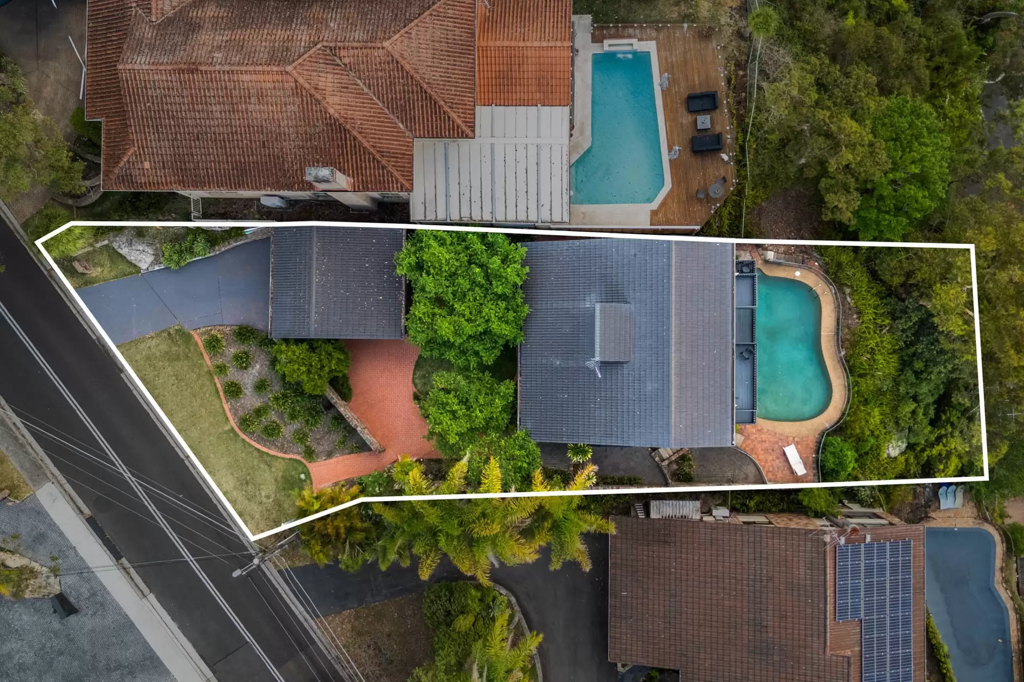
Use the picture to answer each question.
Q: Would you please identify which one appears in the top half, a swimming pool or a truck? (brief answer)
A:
swimming pool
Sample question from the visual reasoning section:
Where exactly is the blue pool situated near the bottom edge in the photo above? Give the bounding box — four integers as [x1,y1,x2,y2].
[920,521,1023,682]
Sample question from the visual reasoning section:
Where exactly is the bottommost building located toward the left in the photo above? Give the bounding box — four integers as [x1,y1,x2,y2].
[267,223,408,339]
